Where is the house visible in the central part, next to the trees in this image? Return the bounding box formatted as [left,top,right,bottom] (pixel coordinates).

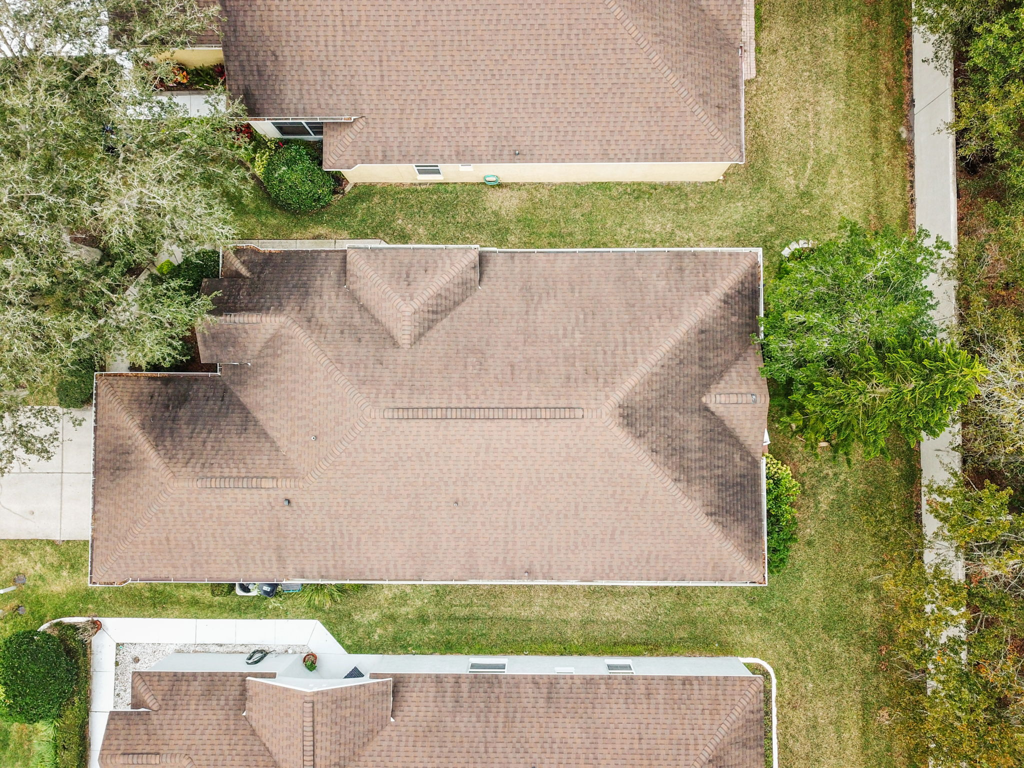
[85,243,773,591]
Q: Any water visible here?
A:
No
